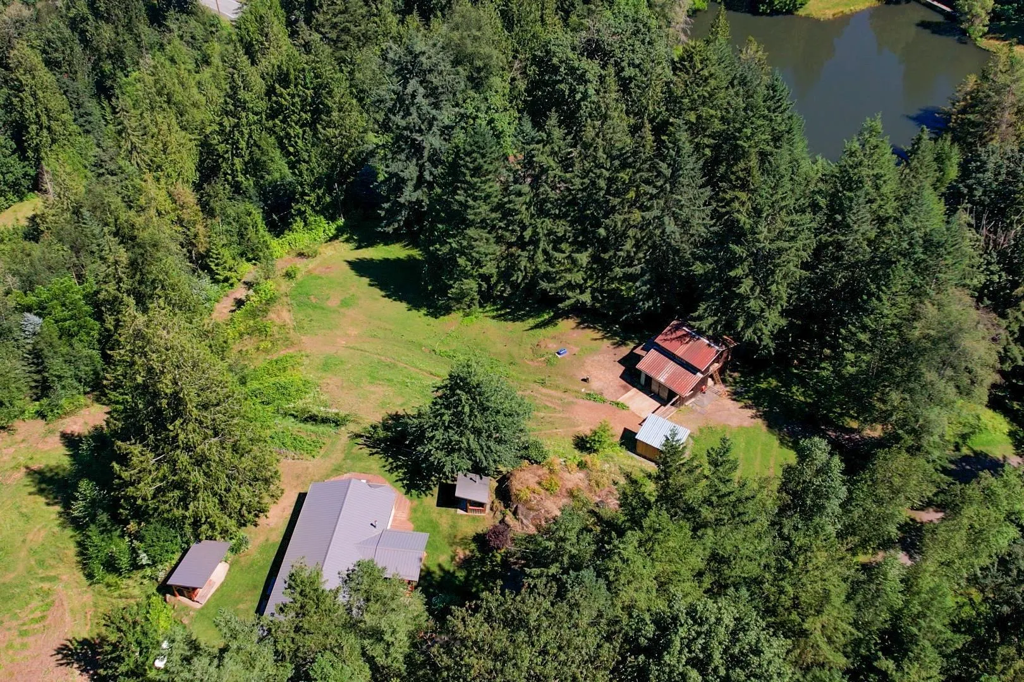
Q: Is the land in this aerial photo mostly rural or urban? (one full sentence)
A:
This place is rural.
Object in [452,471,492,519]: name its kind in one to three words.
building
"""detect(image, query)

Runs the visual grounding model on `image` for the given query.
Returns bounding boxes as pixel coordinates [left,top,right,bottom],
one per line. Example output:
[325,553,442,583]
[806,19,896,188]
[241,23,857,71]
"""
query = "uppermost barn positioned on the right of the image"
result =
[635,317,736,411]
